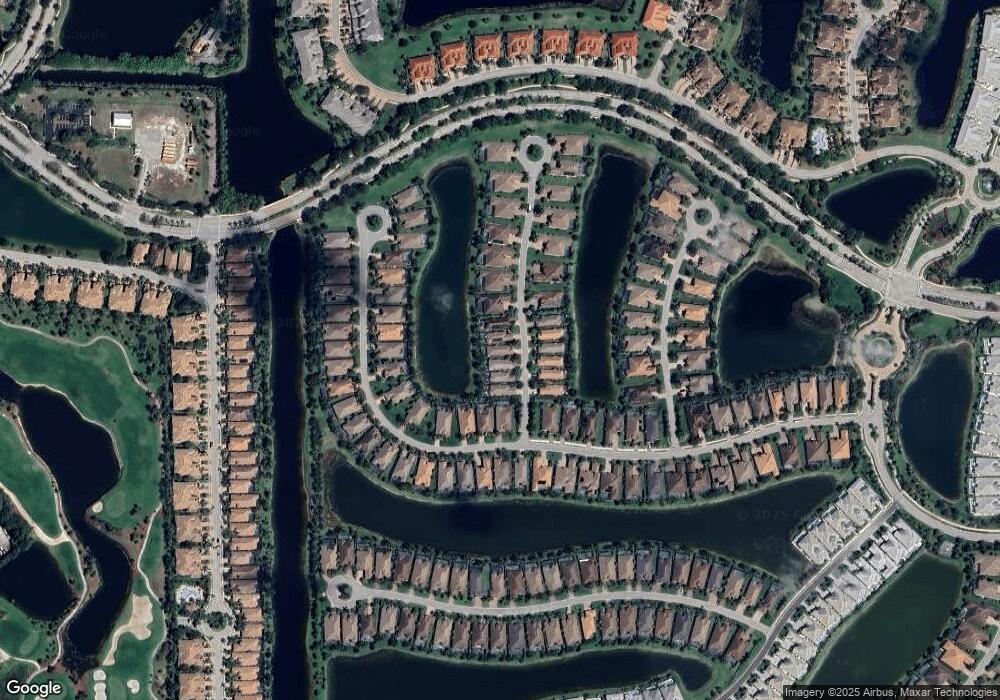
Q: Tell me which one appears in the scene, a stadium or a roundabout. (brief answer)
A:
roundabout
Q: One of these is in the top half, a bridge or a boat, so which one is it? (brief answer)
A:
bridge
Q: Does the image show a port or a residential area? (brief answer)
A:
residential area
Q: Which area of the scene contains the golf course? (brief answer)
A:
bottom left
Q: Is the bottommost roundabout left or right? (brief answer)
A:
right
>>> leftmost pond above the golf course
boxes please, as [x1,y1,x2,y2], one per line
[0,167,124,253]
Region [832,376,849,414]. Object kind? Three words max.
house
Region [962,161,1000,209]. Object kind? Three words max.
roundabout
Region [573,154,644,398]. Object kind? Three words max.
pond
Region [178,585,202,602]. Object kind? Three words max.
swimming pool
